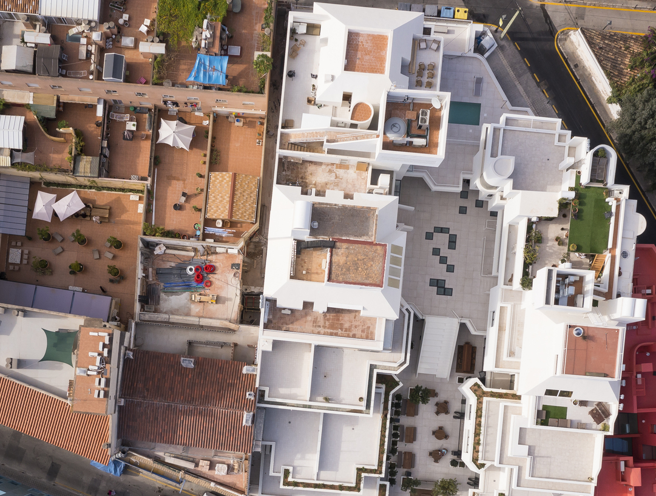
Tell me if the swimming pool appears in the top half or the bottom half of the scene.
top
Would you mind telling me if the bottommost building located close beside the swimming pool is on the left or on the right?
right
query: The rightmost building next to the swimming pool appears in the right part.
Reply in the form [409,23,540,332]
[470,113,651,402]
